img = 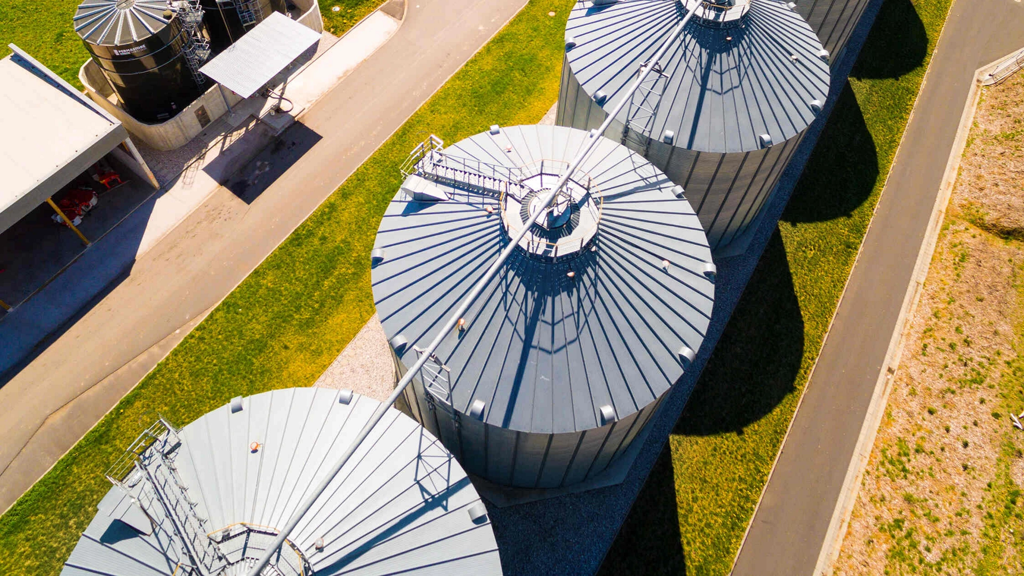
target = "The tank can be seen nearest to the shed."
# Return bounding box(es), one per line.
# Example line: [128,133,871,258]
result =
[72,0,216,125]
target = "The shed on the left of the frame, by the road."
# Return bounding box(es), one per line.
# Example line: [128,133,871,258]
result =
[0,41,163,319]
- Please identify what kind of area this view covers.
industrial area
